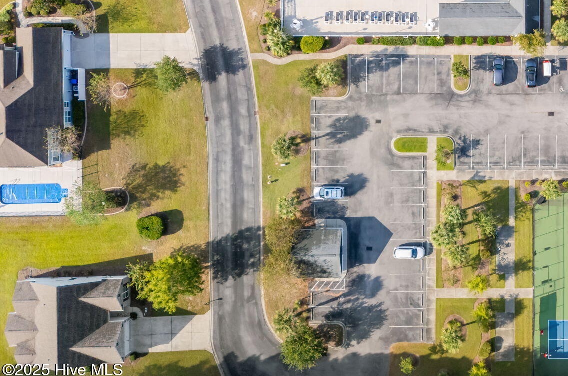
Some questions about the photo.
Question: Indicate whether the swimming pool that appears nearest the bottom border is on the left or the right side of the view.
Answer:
left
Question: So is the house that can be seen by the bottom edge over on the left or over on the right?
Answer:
left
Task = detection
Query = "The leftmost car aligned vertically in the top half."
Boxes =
[492,58,506,86]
